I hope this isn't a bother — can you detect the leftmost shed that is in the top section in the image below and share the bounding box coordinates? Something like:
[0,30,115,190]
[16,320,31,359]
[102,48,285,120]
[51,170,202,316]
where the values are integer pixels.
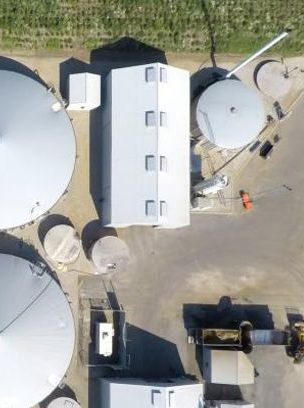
[66,71,101,107]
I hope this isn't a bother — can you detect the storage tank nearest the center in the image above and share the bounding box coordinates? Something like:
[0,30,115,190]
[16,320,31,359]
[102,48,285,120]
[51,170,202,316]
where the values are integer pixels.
[87,236,129,277]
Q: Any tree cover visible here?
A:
No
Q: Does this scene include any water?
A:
No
